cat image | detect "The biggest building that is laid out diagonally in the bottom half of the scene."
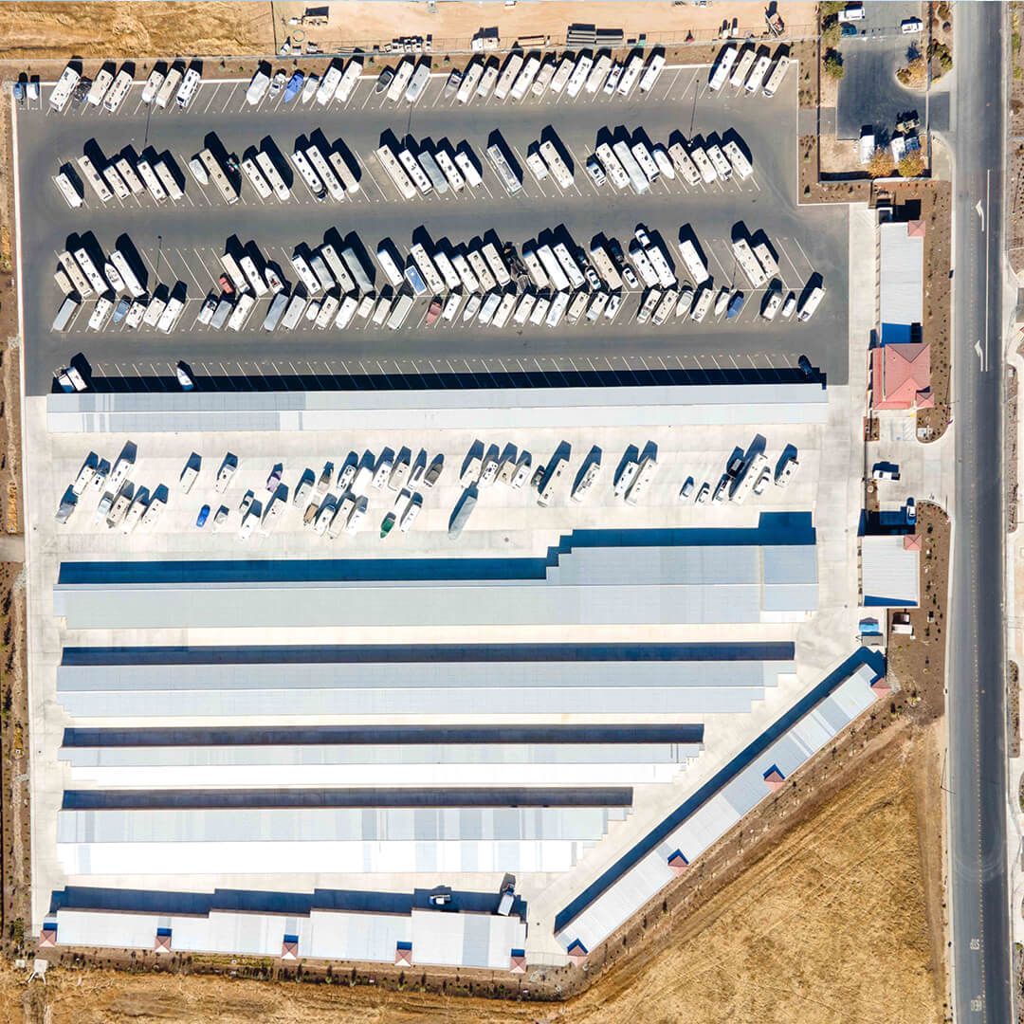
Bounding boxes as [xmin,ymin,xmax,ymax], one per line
[556,665,889,958]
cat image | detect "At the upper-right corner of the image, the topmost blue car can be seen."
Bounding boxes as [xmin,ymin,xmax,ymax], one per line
[839,25,858,37]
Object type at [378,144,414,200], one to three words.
trailer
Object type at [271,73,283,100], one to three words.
boat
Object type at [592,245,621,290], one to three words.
camper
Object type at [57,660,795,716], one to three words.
building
